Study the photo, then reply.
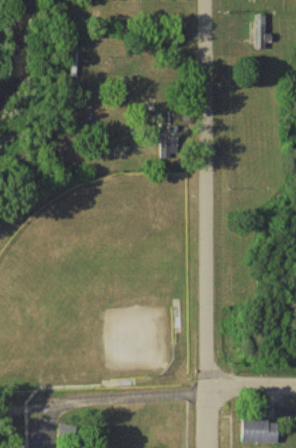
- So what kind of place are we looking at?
sports ground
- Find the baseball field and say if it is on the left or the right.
left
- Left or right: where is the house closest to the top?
right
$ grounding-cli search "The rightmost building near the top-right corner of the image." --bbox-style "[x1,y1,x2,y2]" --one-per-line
[253,14,272,50]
